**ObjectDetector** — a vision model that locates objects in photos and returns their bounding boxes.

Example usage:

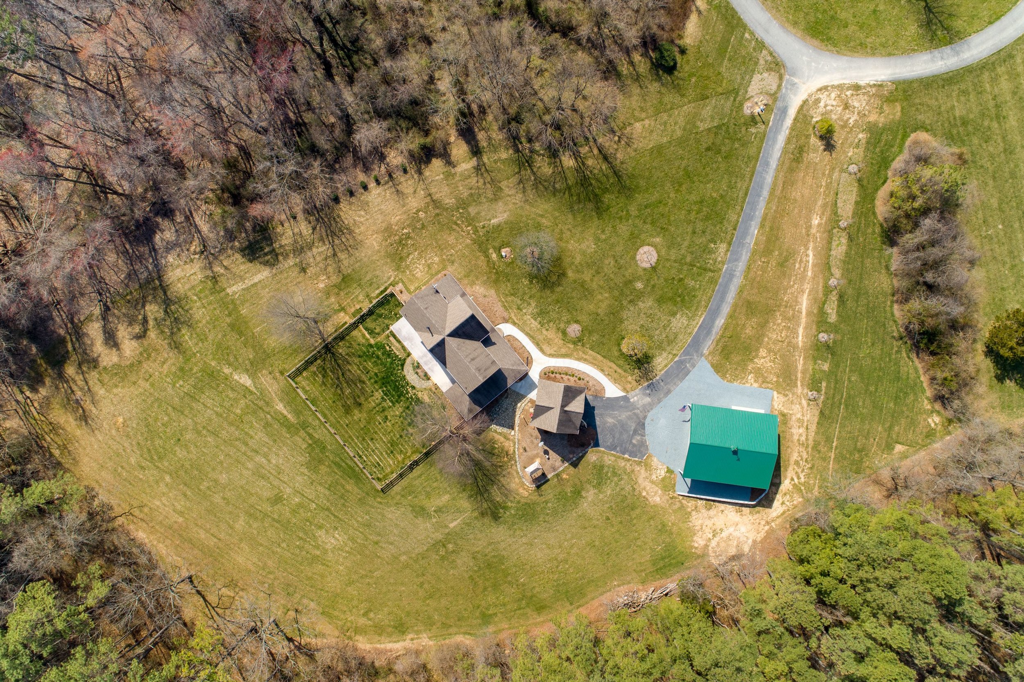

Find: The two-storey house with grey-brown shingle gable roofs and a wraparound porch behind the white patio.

[399,273,530,420]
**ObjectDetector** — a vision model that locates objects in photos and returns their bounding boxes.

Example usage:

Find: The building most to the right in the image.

[678,403,779,489]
